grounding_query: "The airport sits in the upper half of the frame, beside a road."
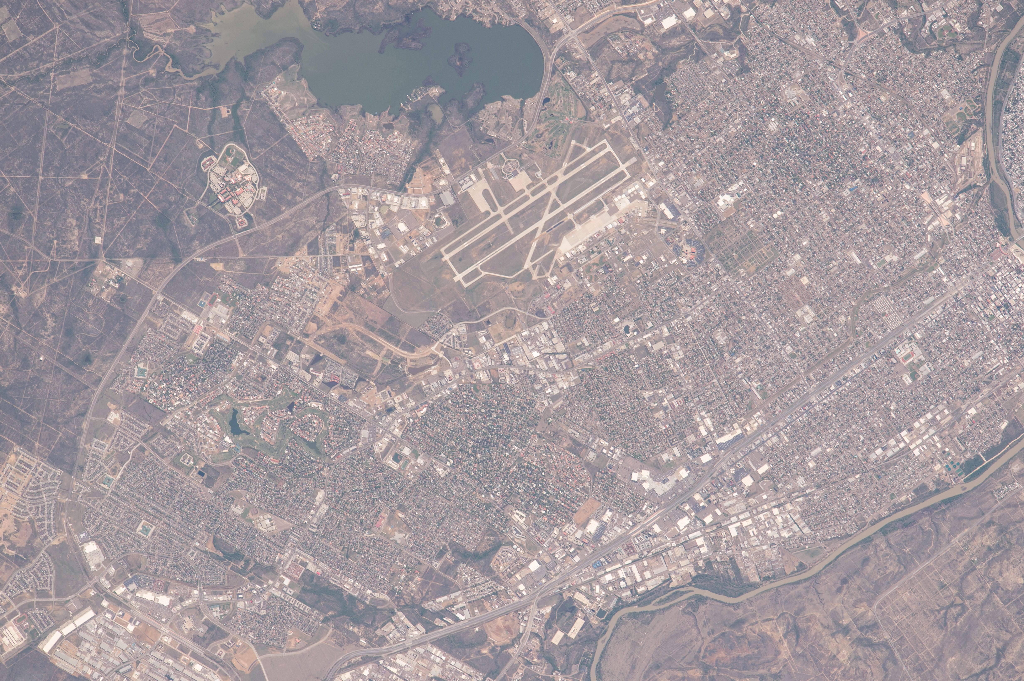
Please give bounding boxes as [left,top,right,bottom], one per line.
[440,135,648,287]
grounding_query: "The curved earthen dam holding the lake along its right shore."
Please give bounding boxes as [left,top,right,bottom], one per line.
[513,15,549,102]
